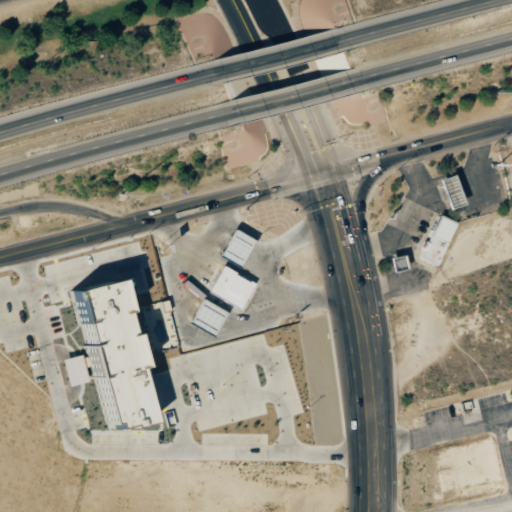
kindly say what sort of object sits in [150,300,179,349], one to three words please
building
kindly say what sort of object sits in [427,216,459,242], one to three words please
building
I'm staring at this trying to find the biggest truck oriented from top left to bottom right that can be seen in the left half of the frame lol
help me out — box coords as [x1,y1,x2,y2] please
[176,274,205,302]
